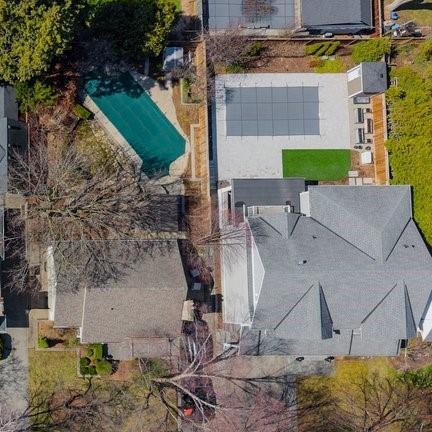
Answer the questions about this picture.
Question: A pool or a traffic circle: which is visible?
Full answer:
It is a pool that can be seen here.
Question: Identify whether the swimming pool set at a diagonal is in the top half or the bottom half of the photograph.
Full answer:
It is in the top half that the swimming pool set at a diagonal appears.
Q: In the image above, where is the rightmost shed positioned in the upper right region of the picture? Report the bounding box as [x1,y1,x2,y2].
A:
[348,62,386,97]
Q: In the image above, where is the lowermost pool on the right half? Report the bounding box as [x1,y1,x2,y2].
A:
[223,82,324,140]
